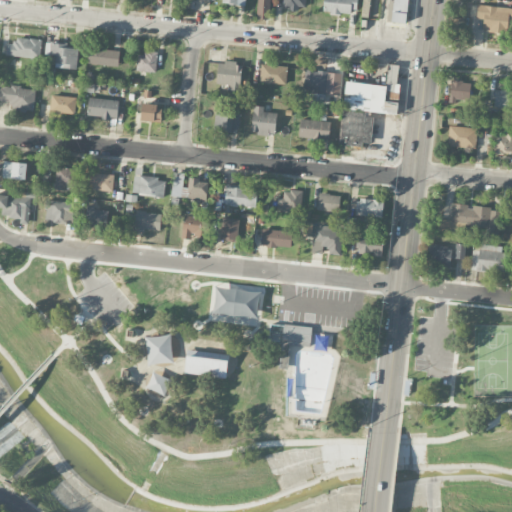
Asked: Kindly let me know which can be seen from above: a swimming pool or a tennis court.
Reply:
swimming pool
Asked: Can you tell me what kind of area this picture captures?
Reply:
residential area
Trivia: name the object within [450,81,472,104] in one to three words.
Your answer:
house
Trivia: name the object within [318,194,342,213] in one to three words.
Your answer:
house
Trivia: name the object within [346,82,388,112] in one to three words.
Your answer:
building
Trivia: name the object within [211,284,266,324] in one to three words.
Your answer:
building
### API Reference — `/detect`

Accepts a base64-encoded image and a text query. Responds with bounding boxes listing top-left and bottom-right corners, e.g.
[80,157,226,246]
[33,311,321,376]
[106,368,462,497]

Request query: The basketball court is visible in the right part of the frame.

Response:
[474,324,512,397]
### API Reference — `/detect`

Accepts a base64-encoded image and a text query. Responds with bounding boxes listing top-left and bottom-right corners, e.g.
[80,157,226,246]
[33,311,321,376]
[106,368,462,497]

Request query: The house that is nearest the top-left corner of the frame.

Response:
[10,37,42,58]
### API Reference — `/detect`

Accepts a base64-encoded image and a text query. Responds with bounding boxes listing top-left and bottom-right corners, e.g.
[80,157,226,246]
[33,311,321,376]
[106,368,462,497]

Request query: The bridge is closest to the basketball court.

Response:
[359,432,401,512]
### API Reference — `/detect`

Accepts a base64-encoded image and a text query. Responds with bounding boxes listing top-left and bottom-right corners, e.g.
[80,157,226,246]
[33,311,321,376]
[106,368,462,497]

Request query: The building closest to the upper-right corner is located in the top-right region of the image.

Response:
[478,3,512,32]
